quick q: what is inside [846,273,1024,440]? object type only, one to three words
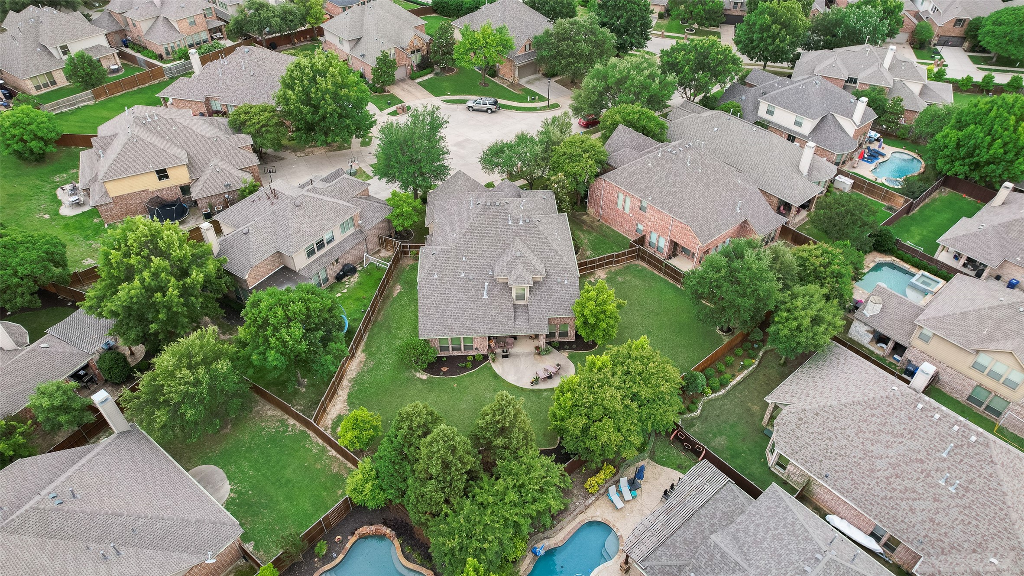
house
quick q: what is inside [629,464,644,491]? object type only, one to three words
umbrella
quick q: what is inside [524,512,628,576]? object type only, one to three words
swimming pool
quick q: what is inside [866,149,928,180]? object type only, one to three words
swimming pool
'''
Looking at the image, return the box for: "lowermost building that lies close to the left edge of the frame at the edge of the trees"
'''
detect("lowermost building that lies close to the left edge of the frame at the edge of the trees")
[0,386,247,576]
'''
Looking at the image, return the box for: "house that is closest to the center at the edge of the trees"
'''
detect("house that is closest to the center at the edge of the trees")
[416,170,581,357]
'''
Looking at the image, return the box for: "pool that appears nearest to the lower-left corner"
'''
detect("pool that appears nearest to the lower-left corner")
[309,527,439,576]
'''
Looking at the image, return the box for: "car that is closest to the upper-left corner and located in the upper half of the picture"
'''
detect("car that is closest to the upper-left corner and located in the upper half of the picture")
[464,94,503,113]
